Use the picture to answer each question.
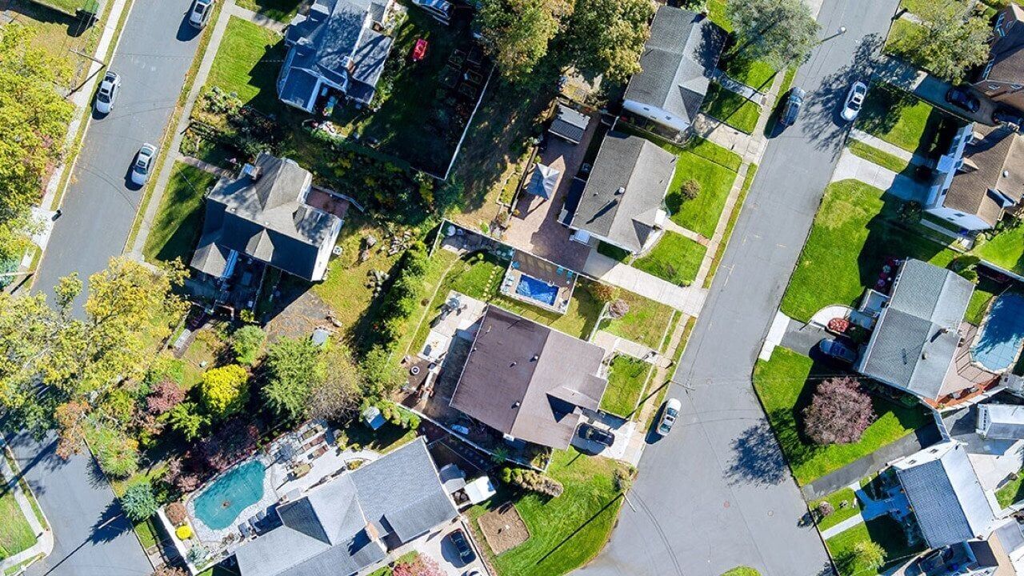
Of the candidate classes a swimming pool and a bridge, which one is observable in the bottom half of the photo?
swimming pool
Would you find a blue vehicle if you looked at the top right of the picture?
Yes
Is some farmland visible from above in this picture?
No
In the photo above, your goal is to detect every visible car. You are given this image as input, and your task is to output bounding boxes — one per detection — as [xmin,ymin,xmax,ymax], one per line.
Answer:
[943,83,986,116]
[817,335,859,366]
[777,83,807,129]
[654,395,682,440]
[131,141,158,187]
[466,563,488,576]
[988,106,1023,125]
[575,421,616,448]
[96,69,122,115]
[447,527,476,568]
[188,0,217,32]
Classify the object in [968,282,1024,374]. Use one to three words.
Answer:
swimming pool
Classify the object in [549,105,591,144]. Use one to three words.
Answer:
shed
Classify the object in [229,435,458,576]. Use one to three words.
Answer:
house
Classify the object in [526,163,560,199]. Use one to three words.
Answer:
gazebo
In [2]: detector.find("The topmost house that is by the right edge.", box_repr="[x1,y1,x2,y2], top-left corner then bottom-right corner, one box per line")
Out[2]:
[964,5,1024,111]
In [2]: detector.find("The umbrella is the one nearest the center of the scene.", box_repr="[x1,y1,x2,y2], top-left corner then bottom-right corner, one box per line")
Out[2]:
[447,297,461,311]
